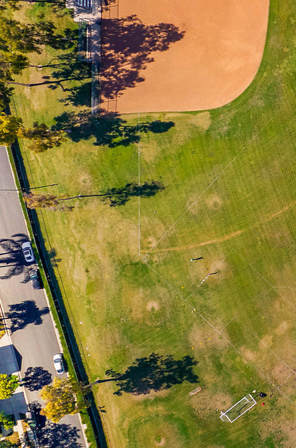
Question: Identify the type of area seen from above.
sports ground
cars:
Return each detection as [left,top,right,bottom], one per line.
[21,241,34,263]
[27,267,42,290]
[51,353,65,375]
